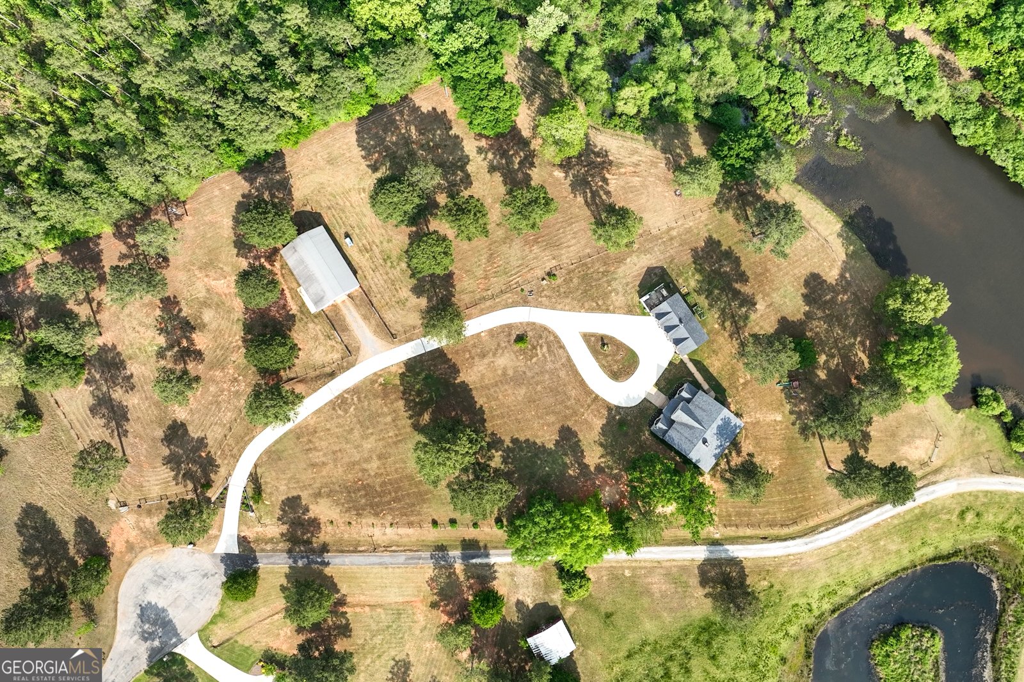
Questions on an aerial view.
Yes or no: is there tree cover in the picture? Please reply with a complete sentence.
Yes, some tree cover is visible.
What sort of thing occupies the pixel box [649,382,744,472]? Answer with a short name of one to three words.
house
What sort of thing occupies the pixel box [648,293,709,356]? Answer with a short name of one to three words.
building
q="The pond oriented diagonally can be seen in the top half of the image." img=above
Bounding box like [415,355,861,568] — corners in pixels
[758,0,1024,458]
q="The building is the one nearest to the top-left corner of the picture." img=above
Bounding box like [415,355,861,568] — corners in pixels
[280,225,361,314]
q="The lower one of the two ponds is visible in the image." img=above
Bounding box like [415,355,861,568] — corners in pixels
[806,560,997,682]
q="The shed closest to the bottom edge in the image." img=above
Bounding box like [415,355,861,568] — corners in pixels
[527,617,576,665]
